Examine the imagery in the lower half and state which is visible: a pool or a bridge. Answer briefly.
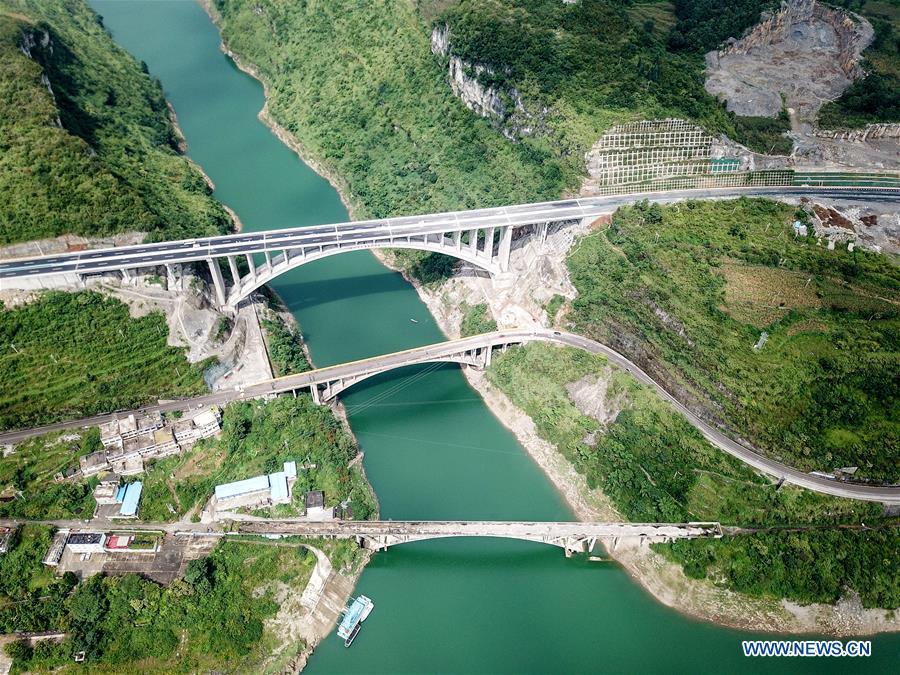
bridge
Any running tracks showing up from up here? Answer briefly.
No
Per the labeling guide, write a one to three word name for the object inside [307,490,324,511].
shed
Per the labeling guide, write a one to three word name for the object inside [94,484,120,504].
house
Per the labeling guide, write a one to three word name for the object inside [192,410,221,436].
house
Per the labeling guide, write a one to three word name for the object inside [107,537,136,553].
shed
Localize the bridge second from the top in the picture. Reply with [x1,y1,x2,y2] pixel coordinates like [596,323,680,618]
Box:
[242,327,550,403]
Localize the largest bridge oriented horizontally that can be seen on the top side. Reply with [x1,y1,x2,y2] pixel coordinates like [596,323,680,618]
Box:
[87,198,590,310]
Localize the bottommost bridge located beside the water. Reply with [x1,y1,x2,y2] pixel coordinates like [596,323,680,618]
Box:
[238,521,722,556]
